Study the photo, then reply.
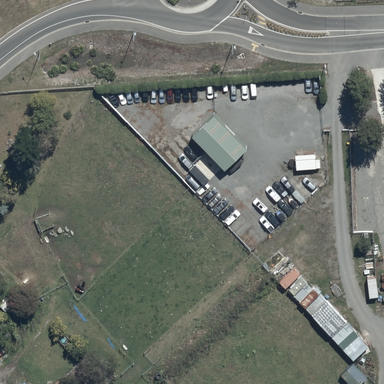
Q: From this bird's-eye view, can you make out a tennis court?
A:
No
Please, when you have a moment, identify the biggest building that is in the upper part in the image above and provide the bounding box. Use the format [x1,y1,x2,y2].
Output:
[192,111,248,174]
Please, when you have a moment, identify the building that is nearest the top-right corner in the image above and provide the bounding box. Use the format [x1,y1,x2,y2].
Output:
[294,149,320,170]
